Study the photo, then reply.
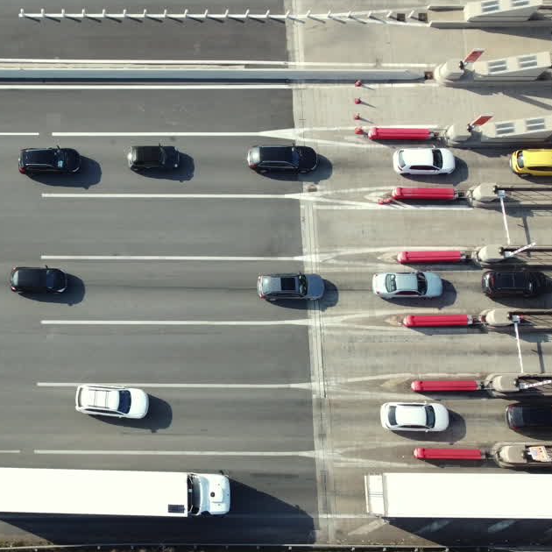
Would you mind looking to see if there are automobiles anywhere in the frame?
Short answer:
Yes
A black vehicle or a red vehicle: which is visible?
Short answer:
black vehicle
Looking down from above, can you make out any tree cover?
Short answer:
No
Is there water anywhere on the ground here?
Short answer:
No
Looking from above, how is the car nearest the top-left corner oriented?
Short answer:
from left to right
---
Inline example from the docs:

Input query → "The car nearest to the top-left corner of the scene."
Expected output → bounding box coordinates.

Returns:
[16,143,80,176]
